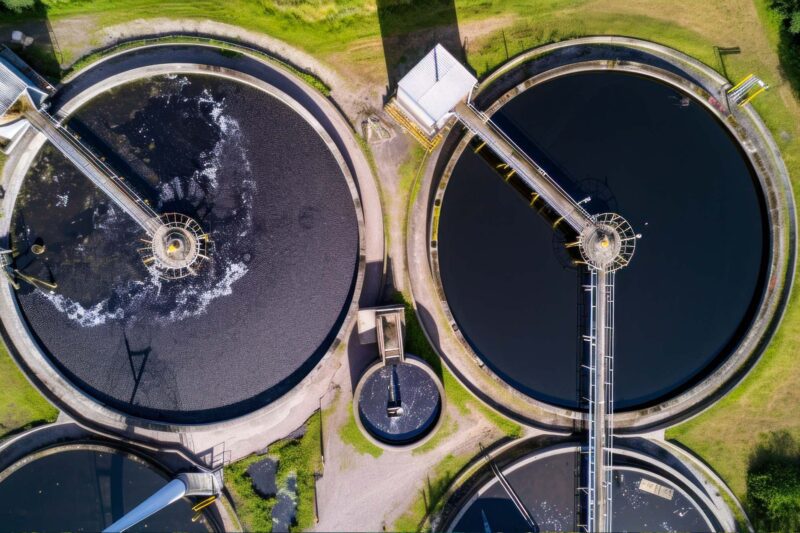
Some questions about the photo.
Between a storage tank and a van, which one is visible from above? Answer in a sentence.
Looking from above, you can make out a storage tank.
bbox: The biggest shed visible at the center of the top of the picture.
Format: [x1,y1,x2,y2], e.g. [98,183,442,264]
[396,43,477,140]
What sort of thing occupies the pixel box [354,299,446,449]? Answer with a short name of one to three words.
storage tank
